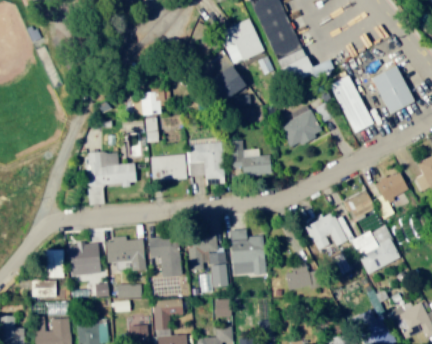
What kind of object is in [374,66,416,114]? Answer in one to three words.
building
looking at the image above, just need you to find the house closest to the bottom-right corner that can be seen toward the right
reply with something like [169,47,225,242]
[400,304,432,342]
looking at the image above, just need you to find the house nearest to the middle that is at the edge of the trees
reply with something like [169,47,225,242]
[188,142,226,184]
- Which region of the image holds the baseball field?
top left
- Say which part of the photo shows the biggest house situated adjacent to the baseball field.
left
